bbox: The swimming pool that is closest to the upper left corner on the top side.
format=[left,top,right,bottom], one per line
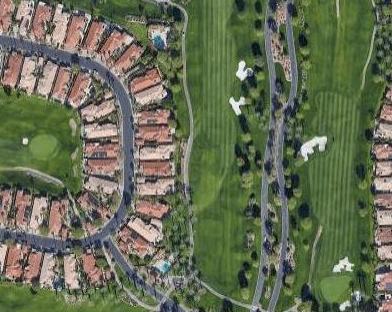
[151,27,169,54]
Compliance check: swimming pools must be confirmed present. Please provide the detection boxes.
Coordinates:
[151,27,169,54]
[155,259,172,274]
